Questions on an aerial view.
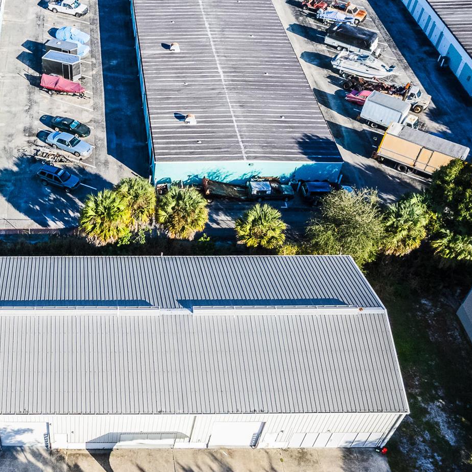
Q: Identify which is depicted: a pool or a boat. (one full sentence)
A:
The one in the frame is a boat.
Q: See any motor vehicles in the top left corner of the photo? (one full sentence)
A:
Yes, you'll find a motor vehicle in the top left corner of the photo.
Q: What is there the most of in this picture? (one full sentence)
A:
What you mostly see from above here is buildings.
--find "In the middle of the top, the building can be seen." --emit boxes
[130,0,346,185]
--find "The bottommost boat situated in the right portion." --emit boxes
[326,50,398,83]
